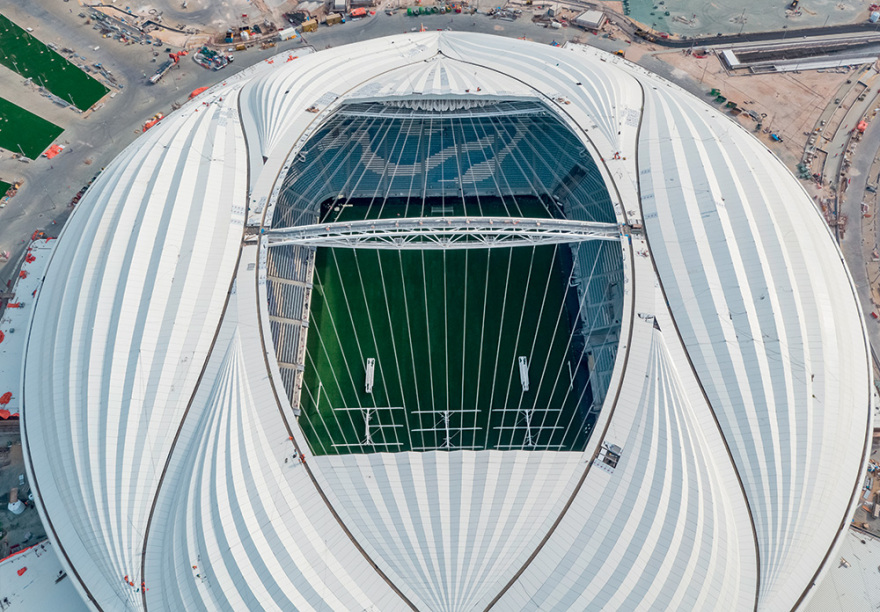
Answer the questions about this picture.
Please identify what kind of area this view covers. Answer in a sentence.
This image shows a sports ground.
